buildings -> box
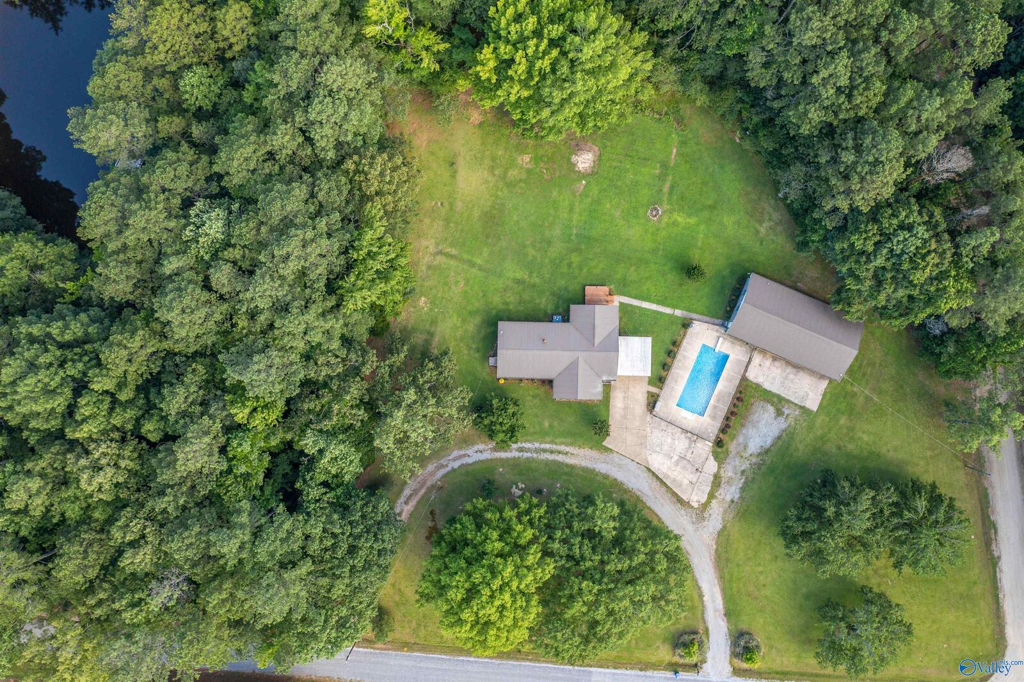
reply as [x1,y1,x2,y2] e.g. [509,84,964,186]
[726,273,865,382]
[498,304,620,400]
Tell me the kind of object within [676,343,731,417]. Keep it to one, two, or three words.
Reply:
swimming pool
